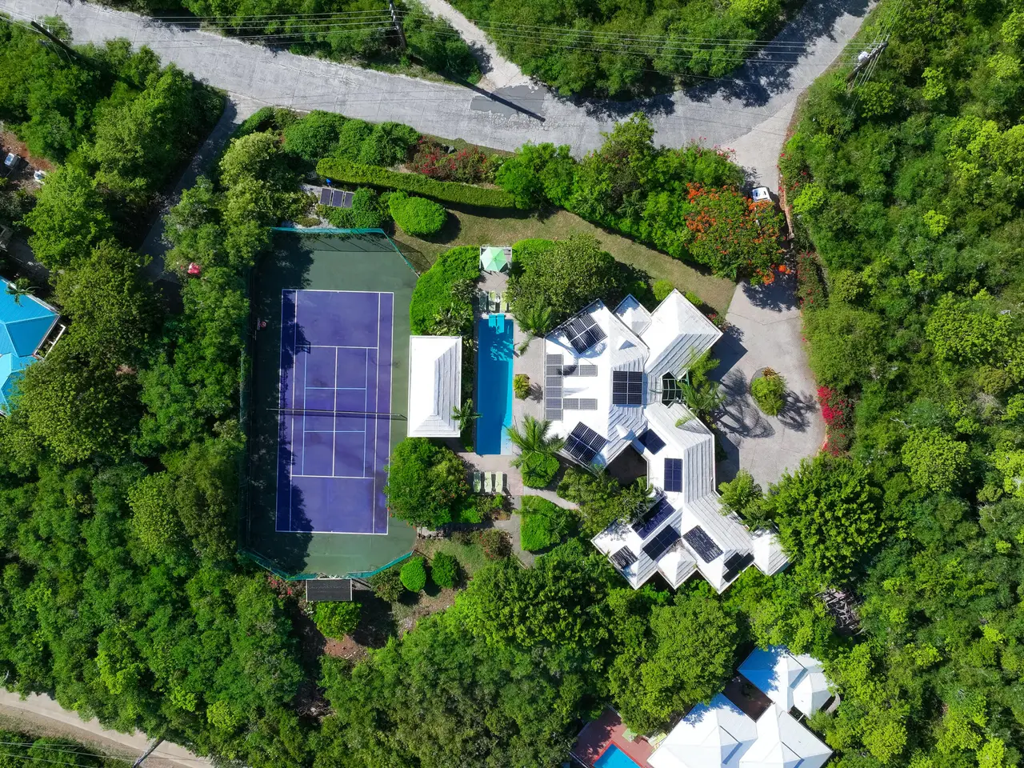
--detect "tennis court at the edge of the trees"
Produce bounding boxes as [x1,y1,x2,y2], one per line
[250,234,421,574]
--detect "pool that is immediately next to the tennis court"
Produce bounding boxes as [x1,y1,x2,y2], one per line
[473,312,517,459]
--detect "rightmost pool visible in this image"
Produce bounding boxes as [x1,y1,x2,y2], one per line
[590,740,648,768]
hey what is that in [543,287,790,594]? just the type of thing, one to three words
house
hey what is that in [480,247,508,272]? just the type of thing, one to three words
umbrella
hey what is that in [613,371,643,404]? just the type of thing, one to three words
solar array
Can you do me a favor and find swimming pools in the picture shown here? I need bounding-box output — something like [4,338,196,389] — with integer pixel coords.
[473,312,517,459]
[590,740,648,768]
